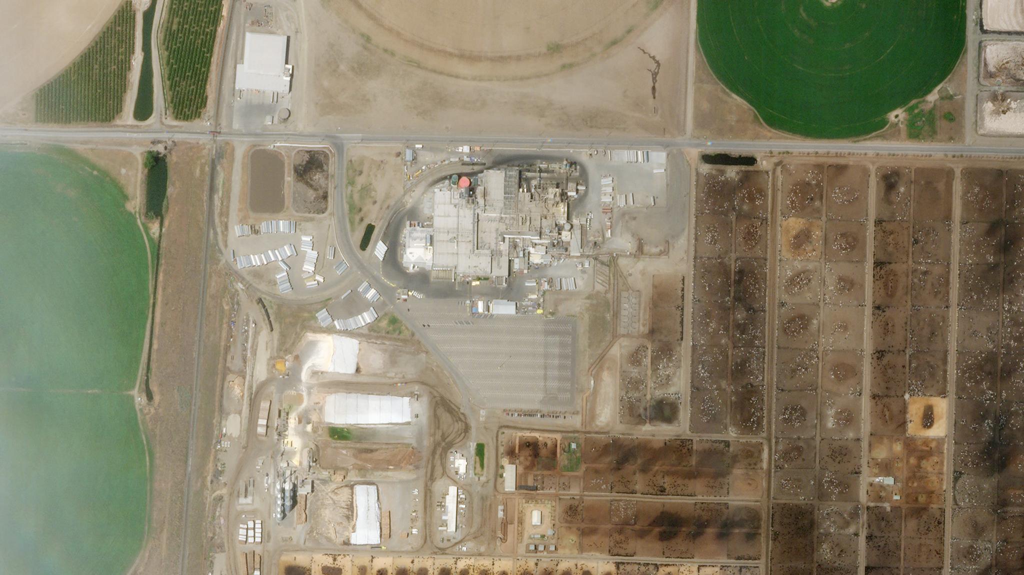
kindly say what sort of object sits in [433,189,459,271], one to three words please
building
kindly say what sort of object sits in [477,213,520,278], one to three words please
building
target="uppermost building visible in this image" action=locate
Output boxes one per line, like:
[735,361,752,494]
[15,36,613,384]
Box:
[244,32,287,76]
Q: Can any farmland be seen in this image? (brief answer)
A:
Yes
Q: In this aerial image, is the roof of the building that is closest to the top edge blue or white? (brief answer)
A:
white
